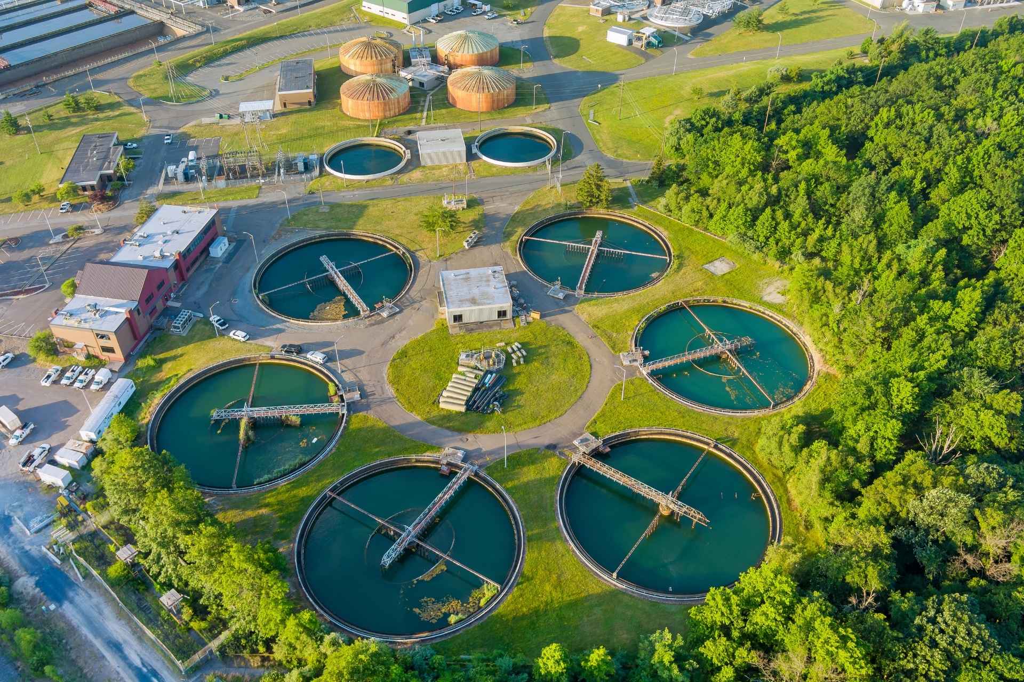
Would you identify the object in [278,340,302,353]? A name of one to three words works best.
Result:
vehicle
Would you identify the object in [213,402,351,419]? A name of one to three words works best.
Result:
bridge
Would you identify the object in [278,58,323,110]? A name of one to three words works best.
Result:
building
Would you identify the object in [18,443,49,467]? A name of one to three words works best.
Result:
truck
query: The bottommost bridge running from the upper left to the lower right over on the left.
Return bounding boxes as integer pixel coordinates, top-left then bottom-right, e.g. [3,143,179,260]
[321,253,371,322]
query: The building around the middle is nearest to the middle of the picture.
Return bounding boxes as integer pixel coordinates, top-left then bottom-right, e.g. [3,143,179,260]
[438,265,516,338]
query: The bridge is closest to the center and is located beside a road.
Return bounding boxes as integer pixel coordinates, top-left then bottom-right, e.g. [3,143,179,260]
[576,230,602,300]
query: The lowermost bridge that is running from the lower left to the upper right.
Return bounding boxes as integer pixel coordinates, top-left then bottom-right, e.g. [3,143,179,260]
[382,456,481,566]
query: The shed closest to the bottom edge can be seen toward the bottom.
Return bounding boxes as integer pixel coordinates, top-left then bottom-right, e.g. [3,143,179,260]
[159,589,184,618]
